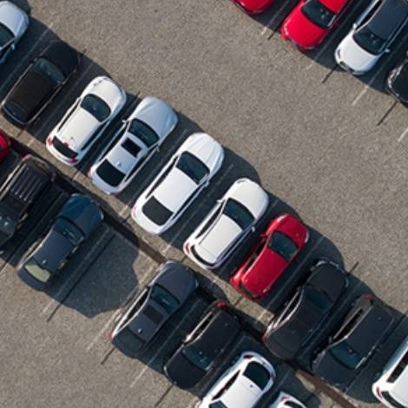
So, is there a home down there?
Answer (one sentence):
No, there appears to be no home in this shot.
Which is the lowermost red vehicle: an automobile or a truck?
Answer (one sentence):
In the photo, the lowermost red vehicle shows up as an automobile.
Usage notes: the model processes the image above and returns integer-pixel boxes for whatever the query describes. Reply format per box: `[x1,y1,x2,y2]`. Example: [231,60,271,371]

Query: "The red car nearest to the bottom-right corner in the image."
[230,214,309,302]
